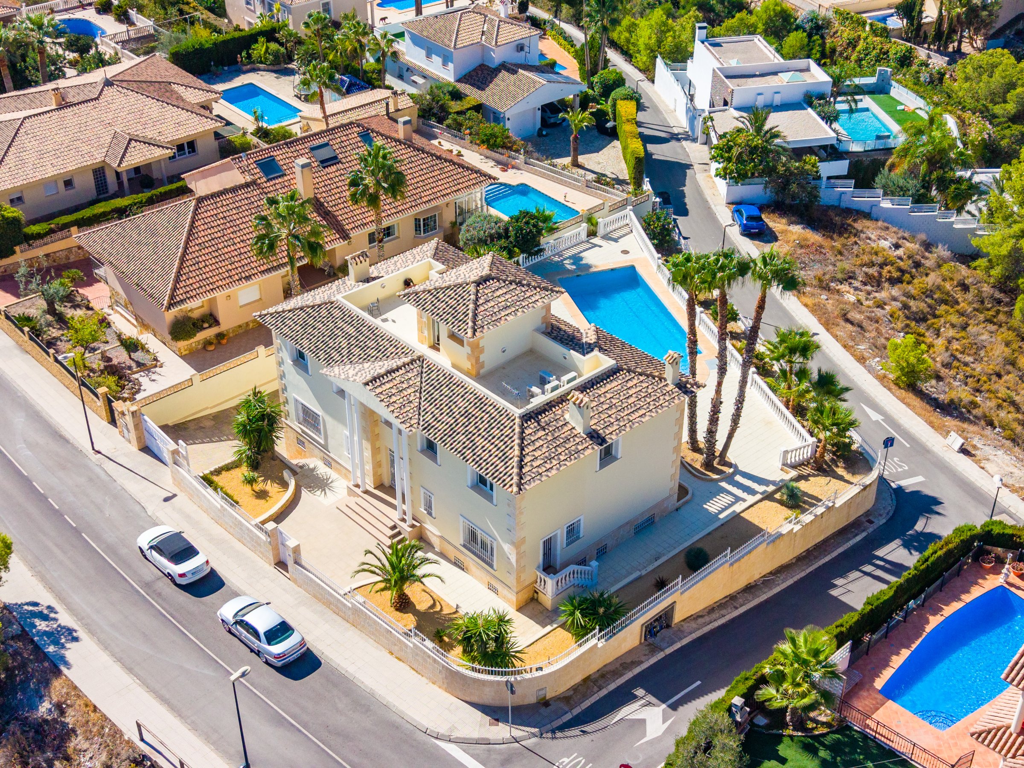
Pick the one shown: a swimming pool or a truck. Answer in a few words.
swimming pool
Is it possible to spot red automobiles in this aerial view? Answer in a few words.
No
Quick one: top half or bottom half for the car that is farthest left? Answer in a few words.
bottom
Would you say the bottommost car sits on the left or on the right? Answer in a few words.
left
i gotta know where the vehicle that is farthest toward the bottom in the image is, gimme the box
[215,592,303,665]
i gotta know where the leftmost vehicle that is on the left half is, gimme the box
[133,522,210,585]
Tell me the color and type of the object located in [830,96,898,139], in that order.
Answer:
blue swimming pool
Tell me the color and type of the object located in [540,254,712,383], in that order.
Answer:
blue swimming pool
